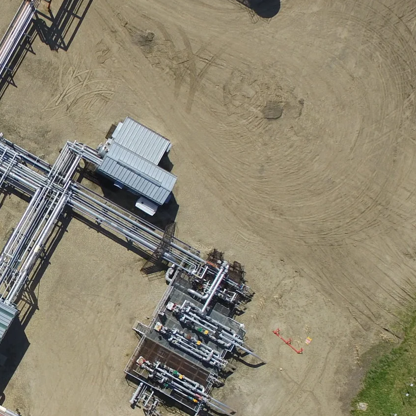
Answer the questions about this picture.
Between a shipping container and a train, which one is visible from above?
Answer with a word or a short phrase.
train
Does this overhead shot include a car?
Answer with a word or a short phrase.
No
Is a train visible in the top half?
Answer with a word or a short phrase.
No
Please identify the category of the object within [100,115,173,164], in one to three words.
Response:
building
